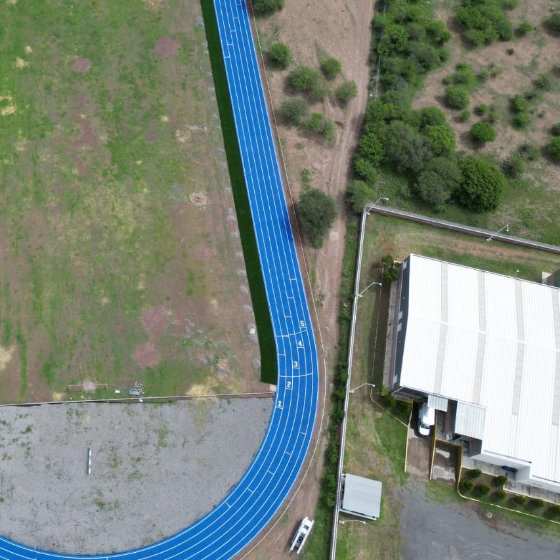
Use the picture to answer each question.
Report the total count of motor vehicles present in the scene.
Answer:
2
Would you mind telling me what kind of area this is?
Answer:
sports ground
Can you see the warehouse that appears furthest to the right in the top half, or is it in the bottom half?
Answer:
bottom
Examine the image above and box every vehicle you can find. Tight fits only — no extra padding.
[293,516,320,554]
[419,398,442,435]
